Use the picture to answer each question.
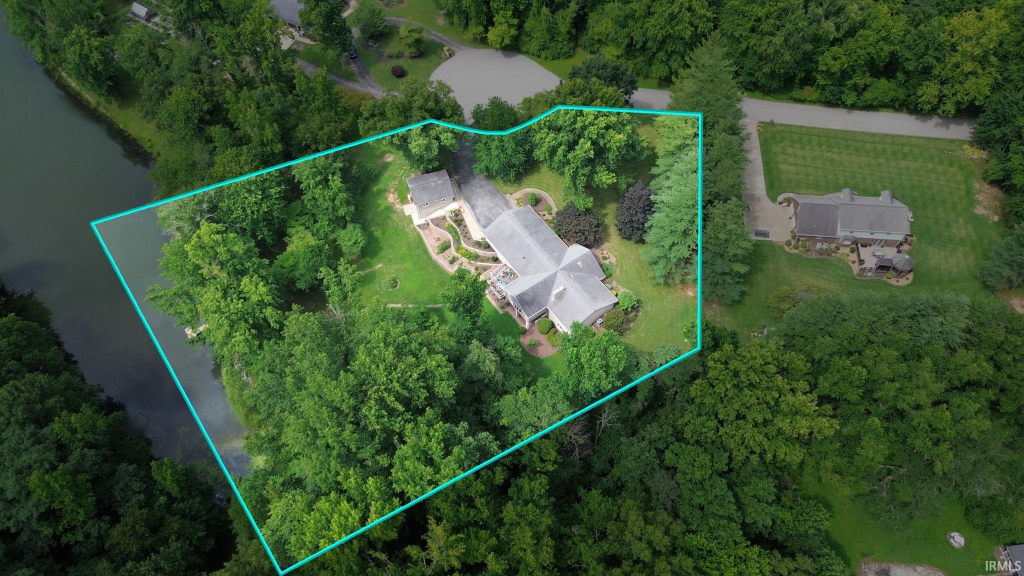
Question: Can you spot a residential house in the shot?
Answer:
Yes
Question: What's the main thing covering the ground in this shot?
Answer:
trees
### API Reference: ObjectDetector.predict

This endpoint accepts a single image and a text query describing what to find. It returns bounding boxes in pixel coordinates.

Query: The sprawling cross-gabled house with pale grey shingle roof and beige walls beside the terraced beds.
[482,205,617,339]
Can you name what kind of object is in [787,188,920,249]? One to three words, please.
house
